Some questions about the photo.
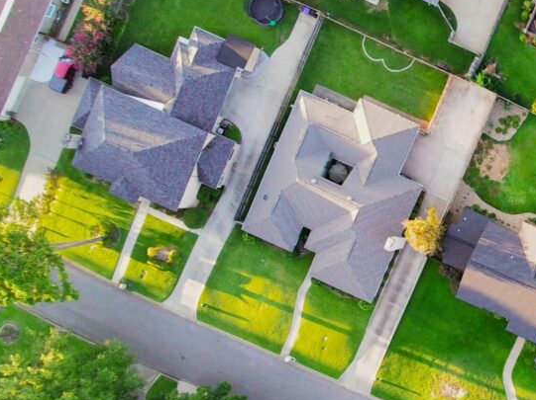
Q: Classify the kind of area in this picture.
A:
residential area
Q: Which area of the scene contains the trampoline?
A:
top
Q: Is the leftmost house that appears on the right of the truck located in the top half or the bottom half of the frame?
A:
top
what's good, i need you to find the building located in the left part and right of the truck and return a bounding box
[70,26,242,211]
